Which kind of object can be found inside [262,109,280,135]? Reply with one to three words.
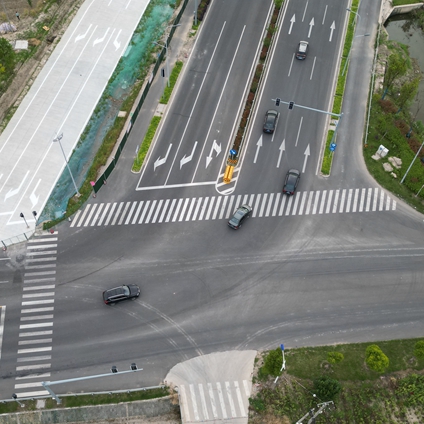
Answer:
car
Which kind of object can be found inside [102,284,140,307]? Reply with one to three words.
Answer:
car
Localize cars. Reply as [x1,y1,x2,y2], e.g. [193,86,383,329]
[102,284,140,307]
[262,109,280,135]
[225,203,254,232]
[295,41,310,61]
[282,168,301,197]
